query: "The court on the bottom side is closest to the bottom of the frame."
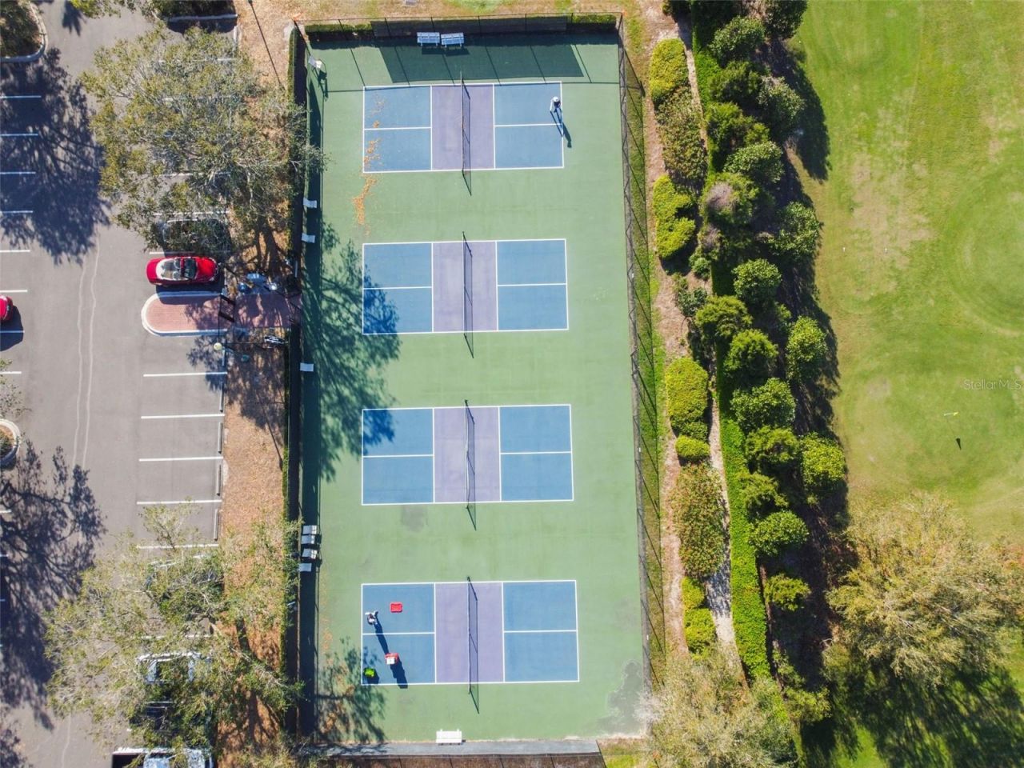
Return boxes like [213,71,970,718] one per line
[362,579,579,685]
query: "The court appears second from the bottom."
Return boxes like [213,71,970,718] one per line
[362,404,574,505]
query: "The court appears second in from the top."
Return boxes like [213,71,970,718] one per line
[363,238,568,335]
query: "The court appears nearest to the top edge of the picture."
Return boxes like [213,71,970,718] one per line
[363,81,564,173]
